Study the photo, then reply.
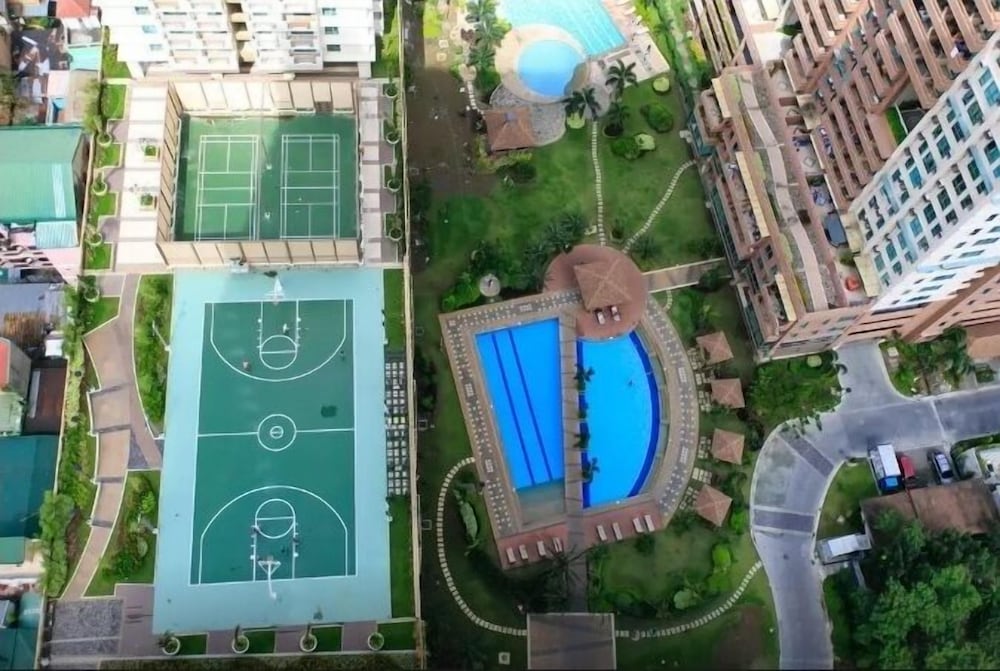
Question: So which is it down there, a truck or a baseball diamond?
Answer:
truck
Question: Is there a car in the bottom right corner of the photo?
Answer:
Yes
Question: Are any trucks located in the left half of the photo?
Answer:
No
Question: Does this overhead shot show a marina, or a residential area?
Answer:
residential area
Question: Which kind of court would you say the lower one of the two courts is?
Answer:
basketball court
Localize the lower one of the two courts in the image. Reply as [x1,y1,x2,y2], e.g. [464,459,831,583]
[153,264,391,633]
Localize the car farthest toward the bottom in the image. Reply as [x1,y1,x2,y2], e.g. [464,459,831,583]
[814,535,868,567]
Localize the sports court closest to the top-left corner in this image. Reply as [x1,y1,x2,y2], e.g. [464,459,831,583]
[173,114,357,238]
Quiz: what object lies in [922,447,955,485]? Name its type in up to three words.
car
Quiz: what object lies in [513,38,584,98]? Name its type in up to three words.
swimming pool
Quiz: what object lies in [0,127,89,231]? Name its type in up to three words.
house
